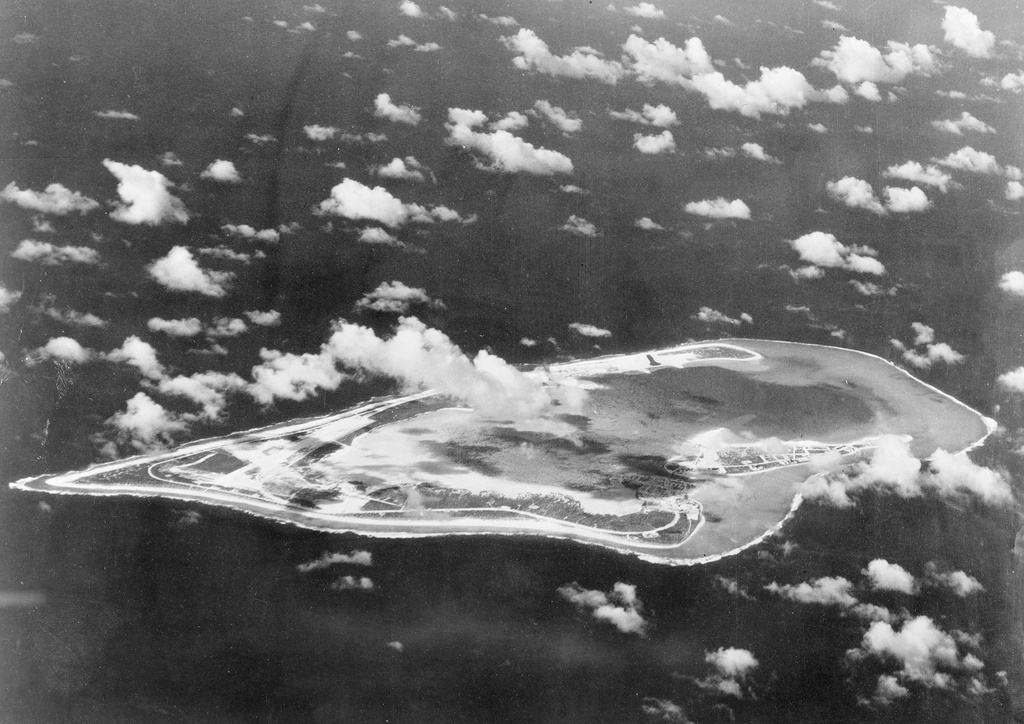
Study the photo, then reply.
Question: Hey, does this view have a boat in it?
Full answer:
No, the frame has no boat in it.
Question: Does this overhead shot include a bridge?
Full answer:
No, the photo shows no bridge.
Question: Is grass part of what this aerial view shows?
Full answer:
No, the picture contains no grass.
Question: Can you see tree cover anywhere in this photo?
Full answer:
No, there is no tree cover in the image.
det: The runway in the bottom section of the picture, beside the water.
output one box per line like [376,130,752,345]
[217,417,375,487]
